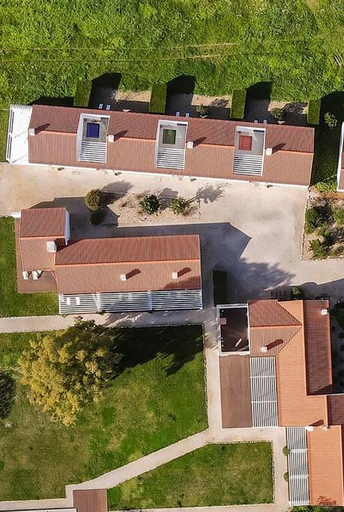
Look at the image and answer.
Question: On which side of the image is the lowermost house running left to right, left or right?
left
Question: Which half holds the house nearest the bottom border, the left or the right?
right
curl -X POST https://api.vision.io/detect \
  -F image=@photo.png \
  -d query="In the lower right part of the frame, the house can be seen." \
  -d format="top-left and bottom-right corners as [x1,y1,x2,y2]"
[248,299,344,506]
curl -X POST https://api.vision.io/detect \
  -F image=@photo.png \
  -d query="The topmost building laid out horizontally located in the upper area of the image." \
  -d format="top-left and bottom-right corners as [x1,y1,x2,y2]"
[28,105,315,189]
